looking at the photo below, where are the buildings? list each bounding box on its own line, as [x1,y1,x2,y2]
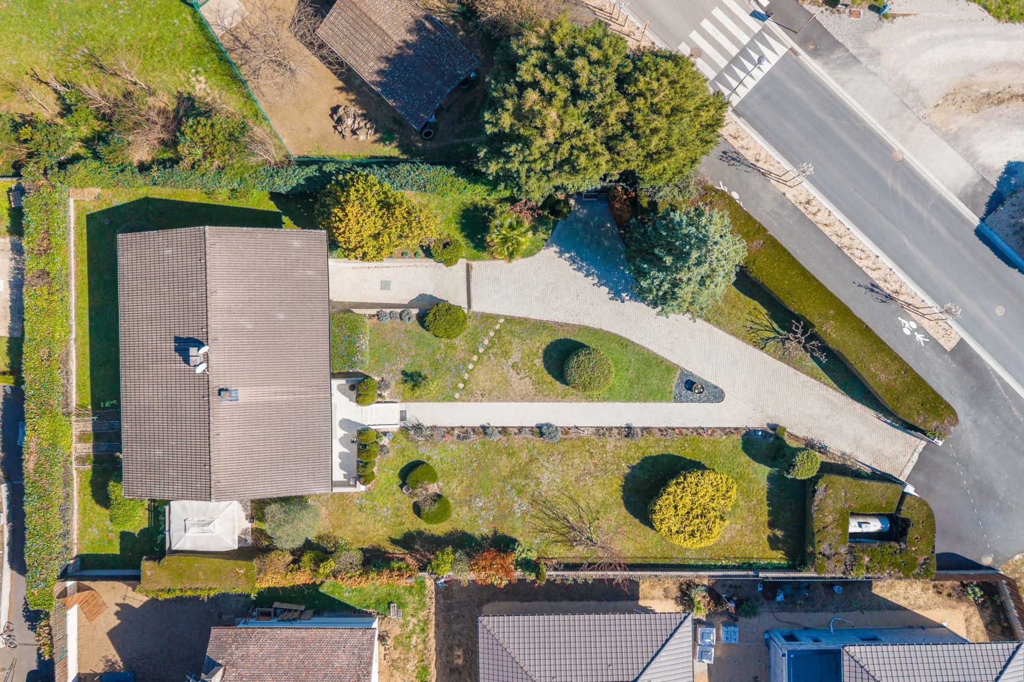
[475,602,695,682]
[201,616,380,682]
[116,226,334,502]
[768,628,1024,682]
[315,0,482,132]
